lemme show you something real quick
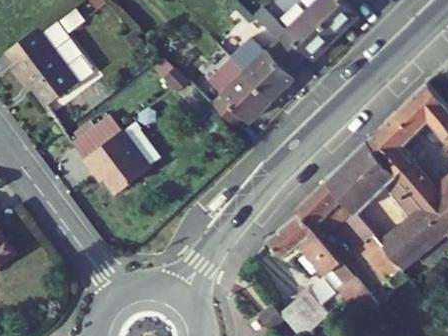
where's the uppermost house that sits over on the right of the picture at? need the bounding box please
[251,0,359,60]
